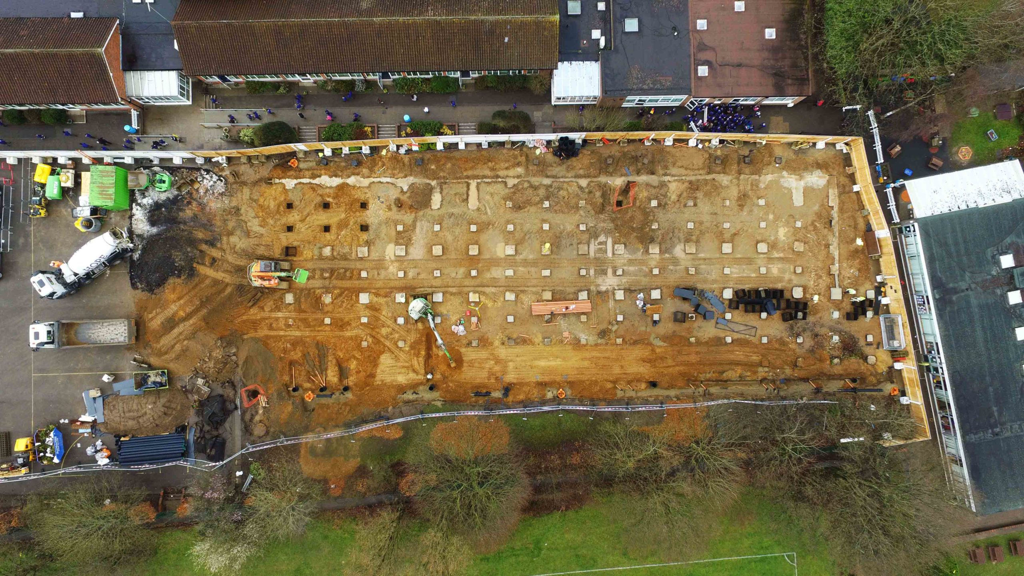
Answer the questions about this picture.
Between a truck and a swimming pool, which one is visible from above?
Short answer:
truck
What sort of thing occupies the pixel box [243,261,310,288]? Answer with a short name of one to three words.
work vehicle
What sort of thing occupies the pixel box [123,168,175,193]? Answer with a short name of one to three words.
truck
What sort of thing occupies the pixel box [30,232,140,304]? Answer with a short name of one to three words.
truck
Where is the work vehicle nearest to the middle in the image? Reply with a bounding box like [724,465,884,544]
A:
[411,290,456,368]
